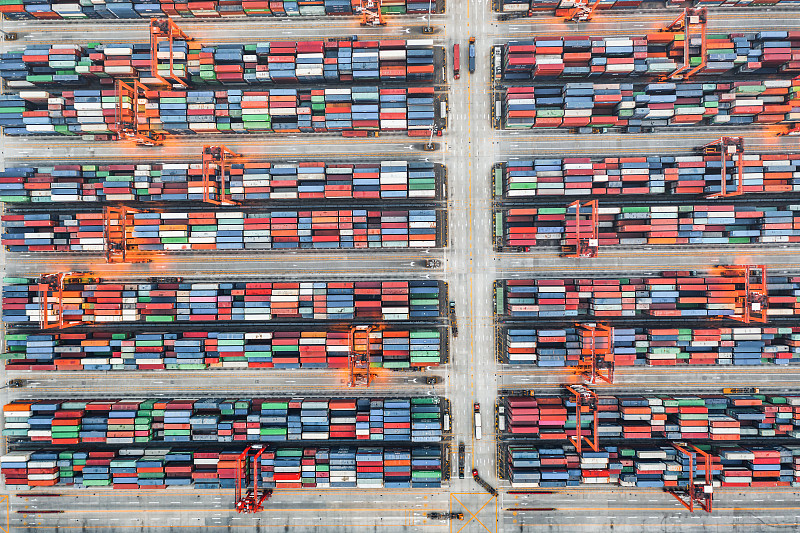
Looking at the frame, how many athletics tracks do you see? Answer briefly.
0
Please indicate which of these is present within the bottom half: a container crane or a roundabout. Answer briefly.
container crane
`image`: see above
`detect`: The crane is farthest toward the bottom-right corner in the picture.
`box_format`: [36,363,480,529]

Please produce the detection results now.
[662,440,712,513]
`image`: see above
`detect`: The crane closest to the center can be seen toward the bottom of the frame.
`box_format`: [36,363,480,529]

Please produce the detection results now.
[345,326,380,388]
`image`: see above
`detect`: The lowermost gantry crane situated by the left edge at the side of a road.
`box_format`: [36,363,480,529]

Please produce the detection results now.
[37,273,96,331]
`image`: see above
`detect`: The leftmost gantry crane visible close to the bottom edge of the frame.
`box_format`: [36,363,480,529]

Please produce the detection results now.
[234,442,274,515]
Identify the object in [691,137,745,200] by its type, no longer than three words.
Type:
container crane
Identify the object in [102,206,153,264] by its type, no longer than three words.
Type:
container crane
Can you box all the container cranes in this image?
[102,206,153,264]
[558,200,599,259]
[234,442,274,515]
[114,78,165,145]
[691,137,745,200]
[37,273,96,331]
[573,324,615,387]
[657,5,709,81]
[712,266,769,324]
[345,326,380,388]
[149,16,197,89]
[202,144,244,206]
[559,385,598,453]
[355,0,391,24]
[662,440,712,513]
